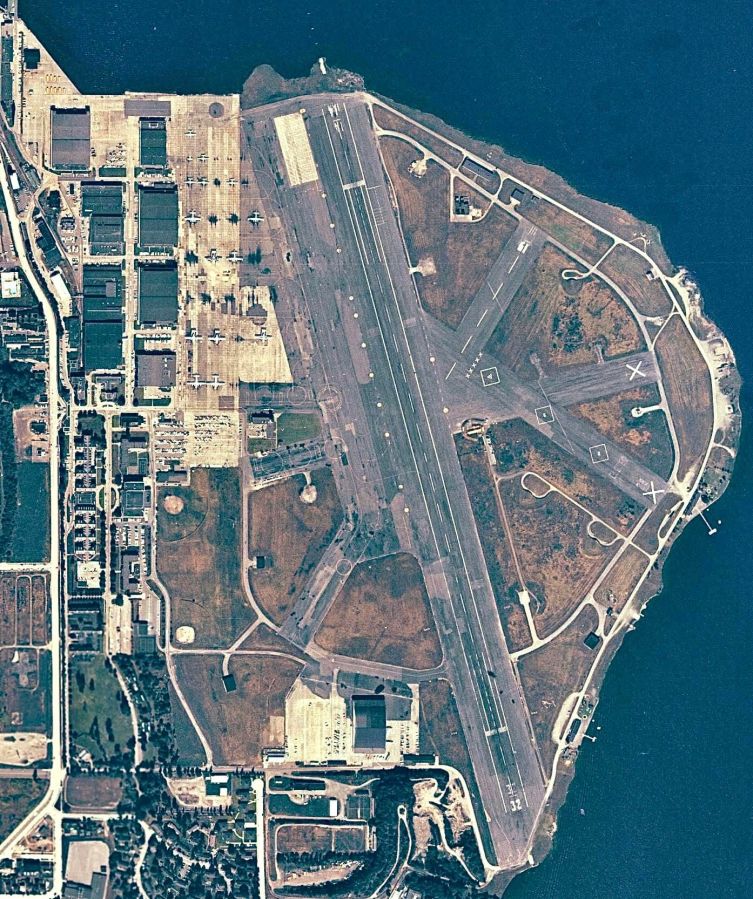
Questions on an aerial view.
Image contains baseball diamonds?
Yes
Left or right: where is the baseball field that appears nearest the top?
left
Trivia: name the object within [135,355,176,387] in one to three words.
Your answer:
hangar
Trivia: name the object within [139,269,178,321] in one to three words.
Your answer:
hangar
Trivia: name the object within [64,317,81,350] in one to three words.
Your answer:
building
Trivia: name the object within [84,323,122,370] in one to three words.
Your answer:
building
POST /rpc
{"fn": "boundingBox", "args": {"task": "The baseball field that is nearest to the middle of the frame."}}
[156,486,210,543]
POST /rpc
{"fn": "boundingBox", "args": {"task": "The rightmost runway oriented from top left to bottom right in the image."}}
[420,299,665,509]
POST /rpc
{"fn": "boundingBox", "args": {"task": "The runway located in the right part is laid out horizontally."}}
[520,350,656,408]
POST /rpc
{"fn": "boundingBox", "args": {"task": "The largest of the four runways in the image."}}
[240,99,546,867]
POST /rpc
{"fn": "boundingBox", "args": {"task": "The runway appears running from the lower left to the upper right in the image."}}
[440,221,548,379]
